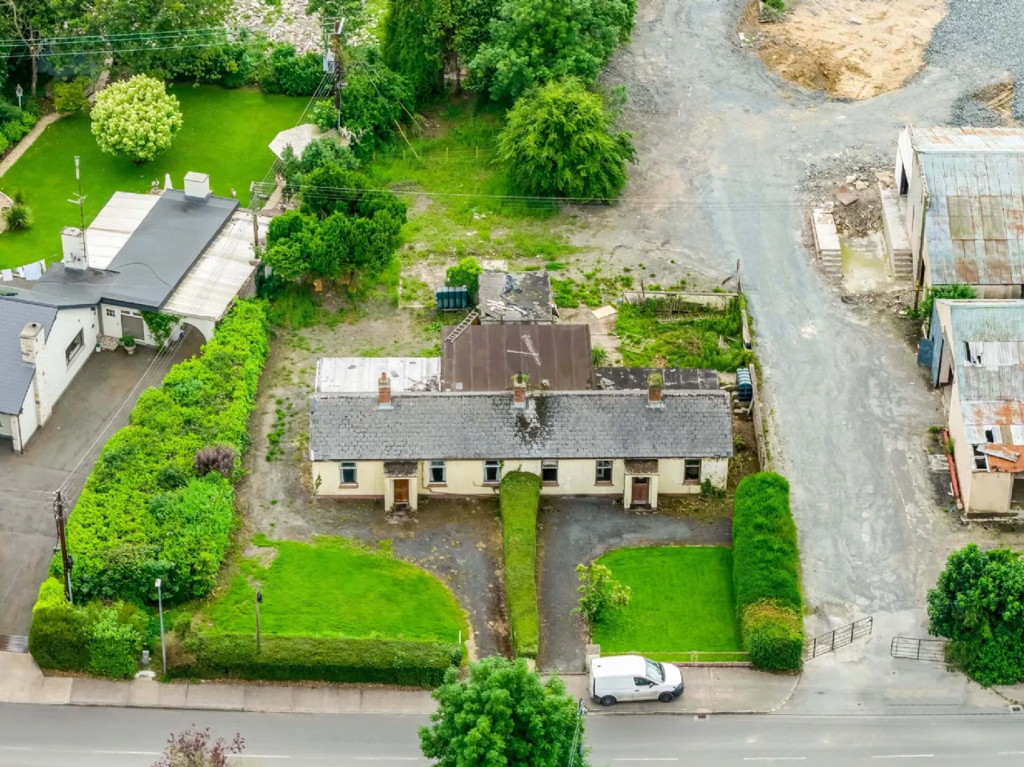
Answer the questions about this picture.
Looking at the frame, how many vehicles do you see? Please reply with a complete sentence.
Altogether the scene contains 1 vehicle.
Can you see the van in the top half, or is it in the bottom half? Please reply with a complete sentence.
The bottom half of the photo is where the van is.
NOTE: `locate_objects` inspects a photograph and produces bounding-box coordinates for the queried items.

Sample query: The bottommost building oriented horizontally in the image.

[307,322,733,512]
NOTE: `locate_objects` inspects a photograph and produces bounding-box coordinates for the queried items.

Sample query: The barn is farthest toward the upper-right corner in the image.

[906,125,1024,315]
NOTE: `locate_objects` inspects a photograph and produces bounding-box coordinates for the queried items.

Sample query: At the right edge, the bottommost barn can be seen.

[929,296,1024,518]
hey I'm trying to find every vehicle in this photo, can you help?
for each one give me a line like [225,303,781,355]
[584,653,685,706]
